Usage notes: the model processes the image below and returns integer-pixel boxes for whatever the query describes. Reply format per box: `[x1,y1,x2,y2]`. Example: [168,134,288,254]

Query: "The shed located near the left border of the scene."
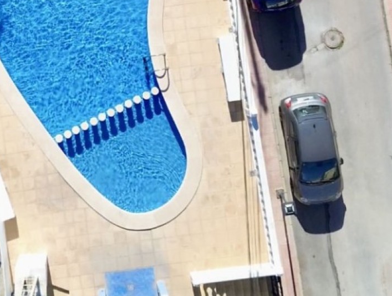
[17,244,52,296]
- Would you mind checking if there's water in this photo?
Yes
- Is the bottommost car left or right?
right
